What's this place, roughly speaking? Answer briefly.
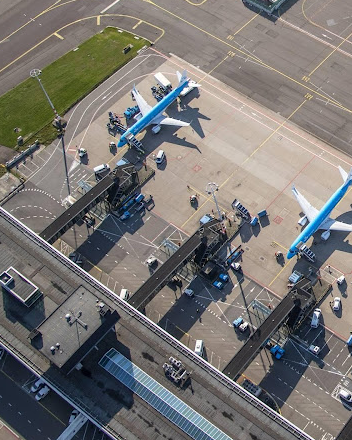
airport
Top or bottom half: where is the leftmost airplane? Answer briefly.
top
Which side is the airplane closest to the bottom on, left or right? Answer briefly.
right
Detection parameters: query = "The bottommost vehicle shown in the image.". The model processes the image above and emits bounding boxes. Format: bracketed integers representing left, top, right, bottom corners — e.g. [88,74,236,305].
[66,408,80,424]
